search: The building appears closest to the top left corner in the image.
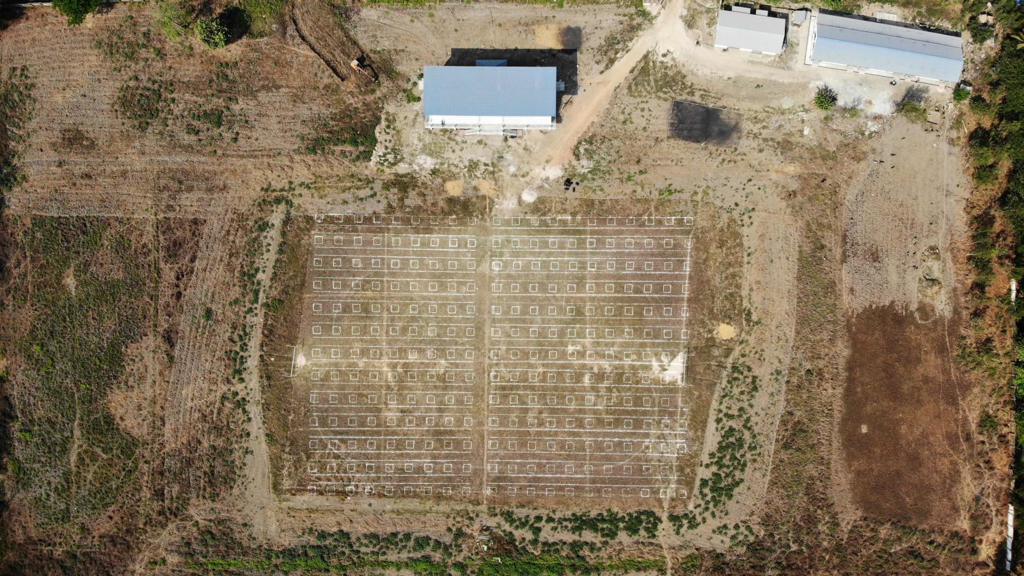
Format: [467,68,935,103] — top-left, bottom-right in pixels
[419,60,564,136]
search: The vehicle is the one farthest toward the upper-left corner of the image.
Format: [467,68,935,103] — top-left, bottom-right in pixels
[350,59,372,80]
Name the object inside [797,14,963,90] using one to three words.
building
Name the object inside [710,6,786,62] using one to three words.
building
